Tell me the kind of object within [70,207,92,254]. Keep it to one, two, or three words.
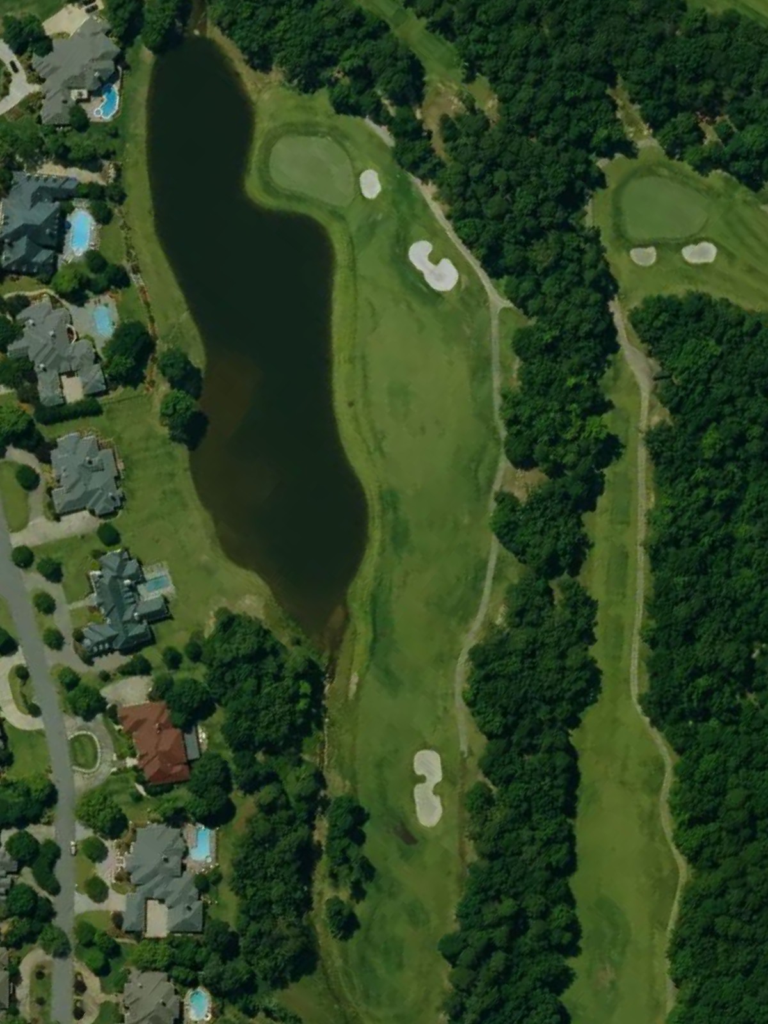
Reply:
swimming pool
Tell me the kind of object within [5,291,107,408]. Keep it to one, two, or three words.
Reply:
house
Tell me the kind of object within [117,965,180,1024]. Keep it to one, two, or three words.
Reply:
house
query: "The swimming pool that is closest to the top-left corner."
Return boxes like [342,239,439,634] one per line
[94,85,119,118]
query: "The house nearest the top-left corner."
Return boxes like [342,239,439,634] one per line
[29,11,123,124]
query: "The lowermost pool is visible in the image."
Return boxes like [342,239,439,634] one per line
[188,985,212,1021]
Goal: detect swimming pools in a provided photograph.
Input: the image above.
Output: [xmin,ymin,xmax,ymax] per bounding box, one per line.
[190,827,212,863]
[70,207,92,254]
[93,304,115,337]
[94,85,119,118]
[145,575,170,593]
[188,985,212,1021]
